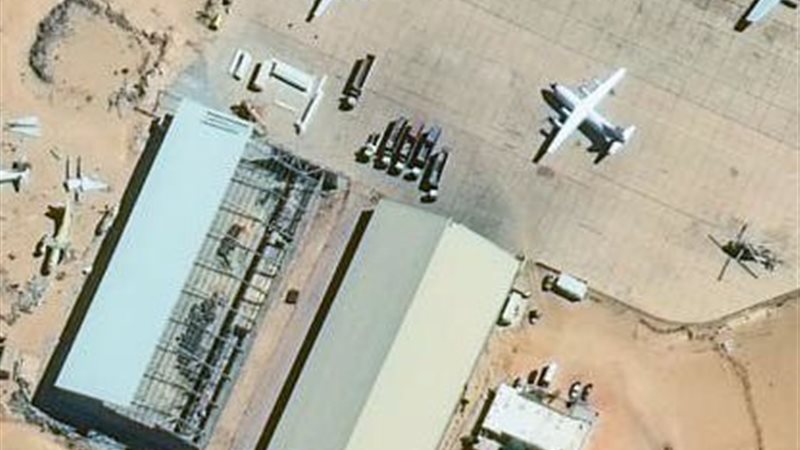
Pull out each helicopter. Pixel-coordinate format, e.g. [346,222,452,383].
[723,218,786,276]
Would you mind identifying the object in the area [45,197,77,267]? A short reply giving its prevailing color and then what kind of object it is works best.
white airplane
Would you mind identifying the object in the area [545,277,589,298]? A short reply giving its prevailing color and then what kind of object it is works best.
white truck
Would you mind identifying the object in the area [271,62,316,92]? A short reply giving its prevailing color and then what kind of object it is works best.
white shipping container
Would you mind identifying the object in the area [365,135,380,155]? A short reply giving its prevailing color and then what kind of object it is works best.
white vehicle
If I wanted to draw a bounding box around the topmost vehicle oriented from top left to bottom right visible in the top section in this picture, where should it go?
[202,8,220,29]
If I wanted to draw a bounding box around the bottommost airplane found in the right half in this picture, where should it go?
[548,68,638,156]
